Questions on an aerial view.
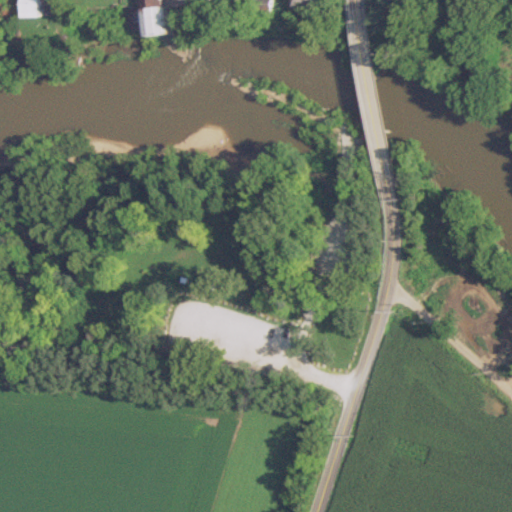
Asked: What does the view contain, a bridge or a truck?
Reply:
bridge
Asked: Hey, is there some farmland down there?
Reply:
Yes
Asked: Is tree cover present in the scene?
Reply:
Yes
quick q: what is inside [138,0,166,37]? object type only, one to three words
house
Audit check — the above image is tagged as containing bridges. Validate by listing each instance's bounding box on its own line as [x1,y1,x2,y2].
[348,12,390,172]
